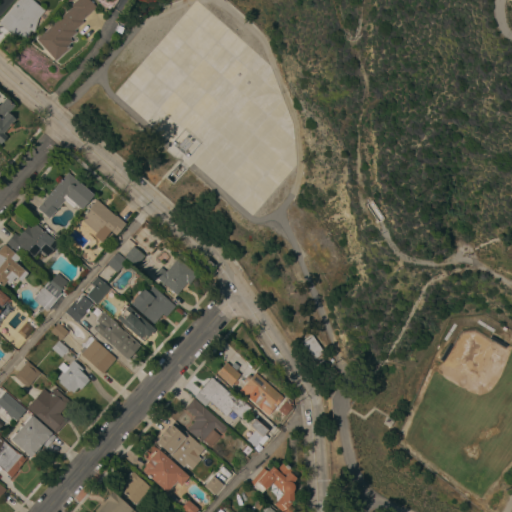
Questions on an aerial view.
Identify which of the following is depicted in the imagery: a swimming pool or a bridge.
swimming pool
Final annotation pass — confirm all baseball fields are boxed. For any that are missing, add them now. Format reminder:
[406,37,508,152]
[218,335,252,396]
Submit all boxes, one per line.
[402,328,512,502]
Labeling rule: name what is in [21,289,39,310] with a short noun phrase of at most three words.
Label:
swimming pool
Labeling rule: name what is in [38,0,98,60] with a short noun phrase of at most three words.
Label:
house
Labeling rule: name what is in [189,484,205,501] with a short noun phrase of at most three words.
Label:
swimming pool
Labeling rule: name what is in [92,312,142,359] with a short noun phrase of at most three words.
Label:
building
